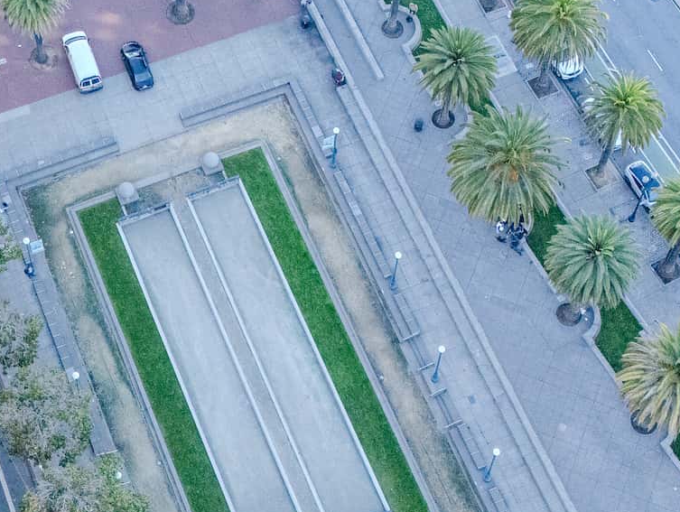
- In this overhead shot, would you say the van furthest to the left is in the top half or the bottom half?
top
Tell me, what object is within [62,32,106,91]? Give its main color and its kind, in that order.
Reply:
white van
